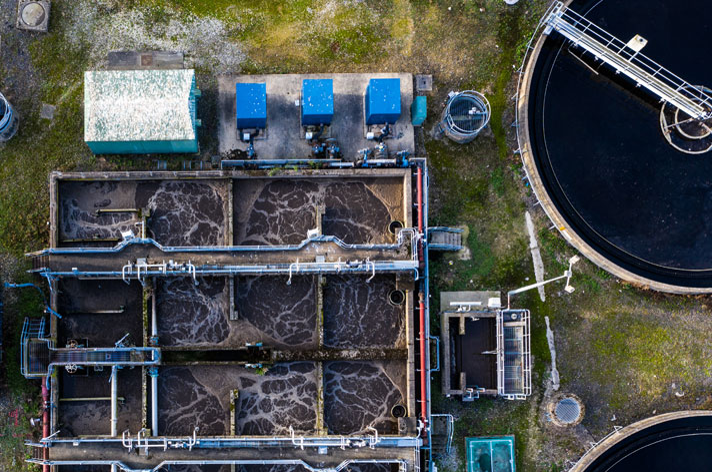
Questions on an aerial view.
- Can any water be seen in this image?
Yes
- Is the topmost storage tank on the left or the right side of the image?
right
